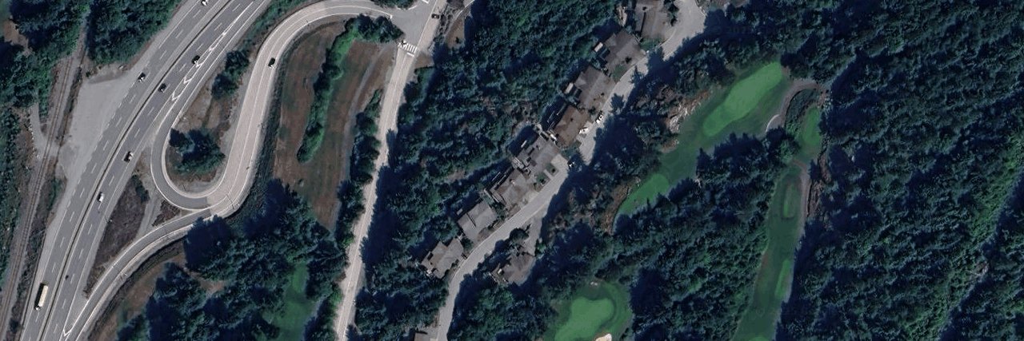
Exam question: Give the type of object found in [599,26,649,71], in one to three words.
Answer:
house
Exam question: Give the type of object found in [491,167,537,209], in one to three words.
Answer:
house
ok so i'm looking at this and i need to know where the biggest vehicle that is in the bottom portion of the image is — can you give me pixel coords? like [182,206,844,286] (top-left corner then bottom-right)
[37,284,50,309]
